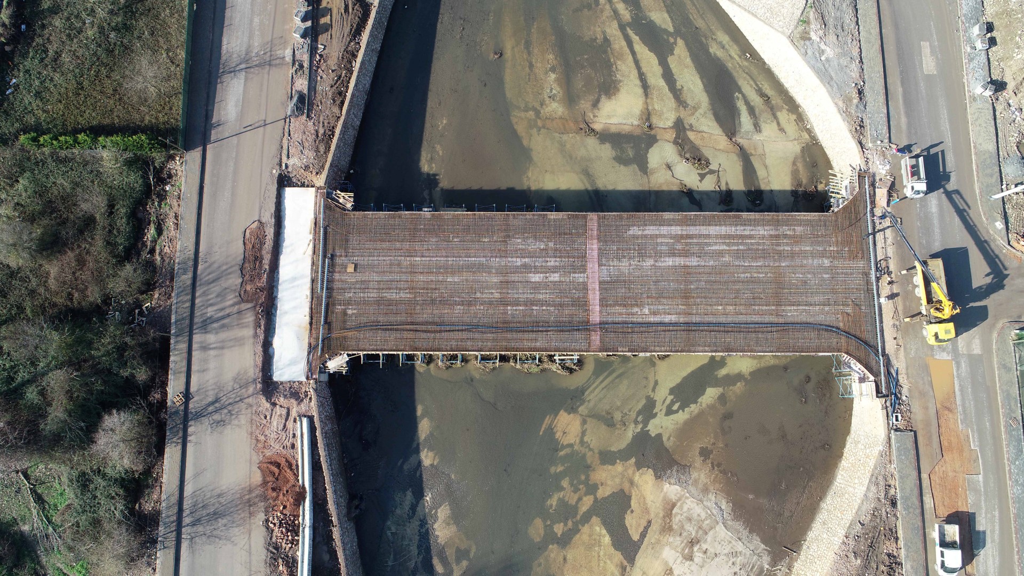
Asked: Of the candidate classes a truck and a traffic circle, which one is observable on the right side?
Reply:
truck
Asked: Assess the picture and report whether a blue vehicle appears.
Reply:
No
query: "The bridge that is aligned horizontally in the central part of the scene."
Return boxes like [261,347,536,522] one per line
[308,171,891,398]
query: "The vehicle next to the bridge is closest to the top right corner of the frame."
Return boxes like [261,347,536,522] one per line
[894,153,932,202]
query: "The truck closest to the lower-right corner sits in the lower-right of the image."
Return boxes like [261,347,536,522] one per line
[931,522,966,576]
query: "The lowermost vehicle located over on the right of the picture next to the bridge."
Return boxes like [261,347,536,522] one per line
[870,206,963,349]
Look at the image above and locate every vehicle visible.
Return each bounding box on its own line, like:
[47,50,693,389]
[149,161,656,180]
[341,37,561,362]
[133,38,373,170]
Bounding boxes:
[931,522,966,576]
[894,153,932,202]
[870,206,963,349]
